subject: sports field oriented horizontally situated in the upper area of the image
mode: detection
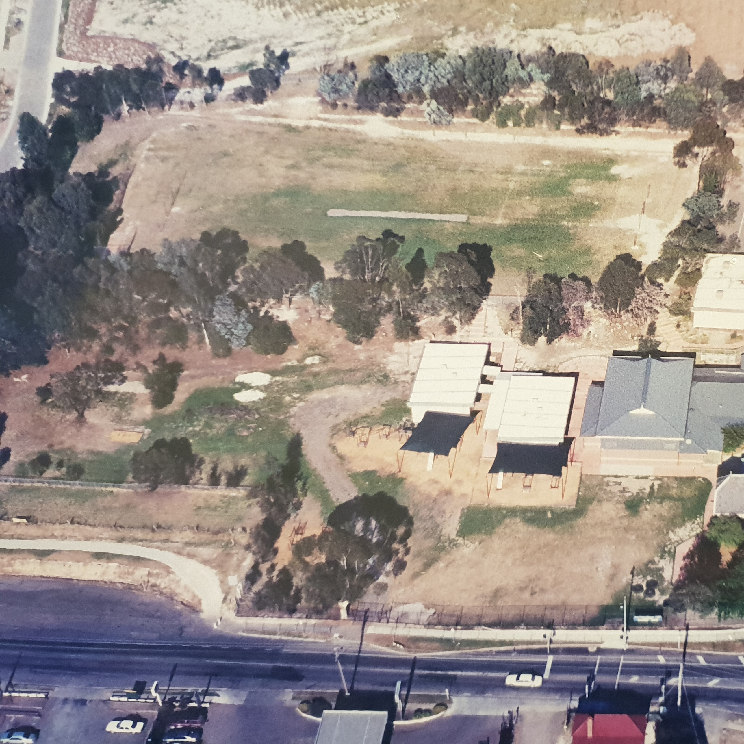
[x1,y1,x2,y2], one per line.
[328,209,468,222]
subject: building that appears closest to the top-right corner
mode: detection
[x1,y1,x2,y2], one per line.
[691,254,744,324]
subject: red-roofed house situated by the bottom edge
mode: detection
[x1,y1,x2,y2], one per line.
[572,713,647,744]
